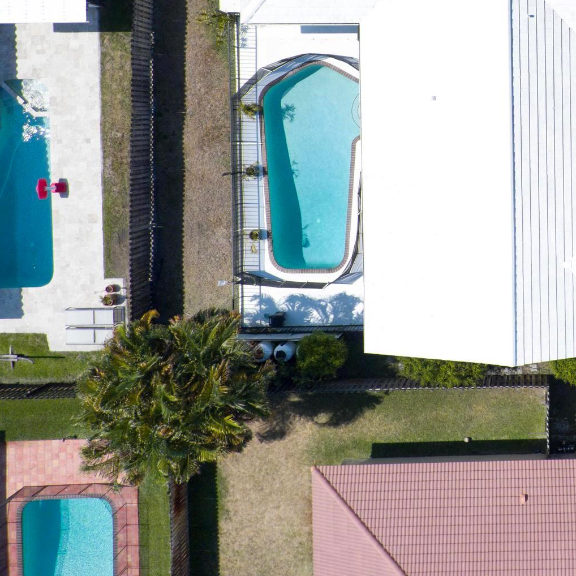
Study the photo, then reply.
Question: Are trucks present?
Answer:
No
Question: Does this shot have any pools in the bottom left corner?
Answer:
Yes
